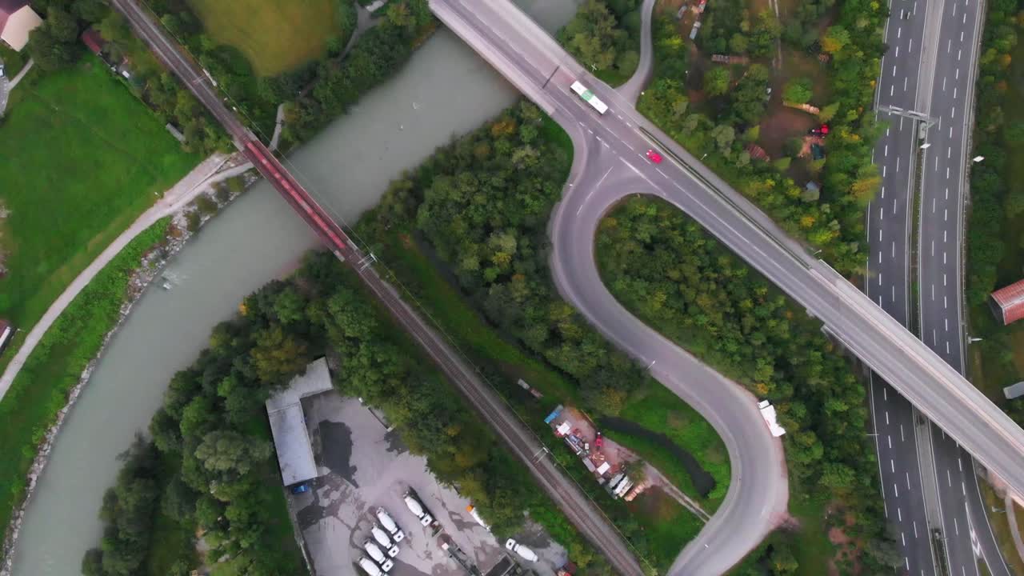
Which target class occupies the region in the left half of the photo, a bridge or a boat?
bridge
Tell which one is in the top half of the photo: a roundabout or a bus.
bus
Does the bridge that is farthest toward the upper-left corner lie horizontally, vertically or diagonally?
diagonally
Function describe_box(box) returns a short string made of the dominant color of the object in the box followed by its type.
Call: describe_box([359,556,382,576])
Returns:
white vehicle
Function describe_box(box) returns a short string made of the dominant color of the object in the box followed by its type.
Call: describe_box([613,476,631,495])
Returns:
white vehicle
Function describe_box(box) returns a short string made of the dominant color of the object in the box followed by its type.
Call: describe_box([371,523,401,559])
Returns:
white truck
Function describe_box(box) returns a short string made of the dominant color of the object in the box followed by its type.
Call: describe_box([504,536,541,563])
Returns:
white truck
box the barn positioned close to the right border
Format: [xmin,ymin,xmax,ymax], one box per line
[988,279,1024,328]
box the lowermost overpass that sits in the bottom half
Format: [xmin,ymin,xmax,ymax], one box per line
[782,259,1024,509]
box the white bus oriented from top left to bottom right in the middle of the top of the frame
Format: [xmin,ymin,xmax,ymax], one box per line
[571,82,608,118]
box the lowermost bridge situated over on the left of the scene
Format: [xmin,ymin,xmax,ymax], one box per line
[231,127,362,265]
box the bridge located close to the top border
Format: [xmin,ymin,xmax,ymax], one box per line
[421,0,610,115]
